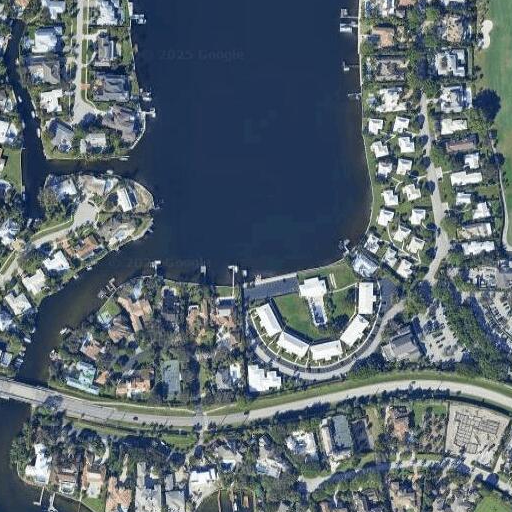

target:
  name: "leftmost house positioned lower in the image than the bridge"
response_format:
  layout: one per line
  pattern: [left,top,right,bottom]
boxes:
[21,442,52,484]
